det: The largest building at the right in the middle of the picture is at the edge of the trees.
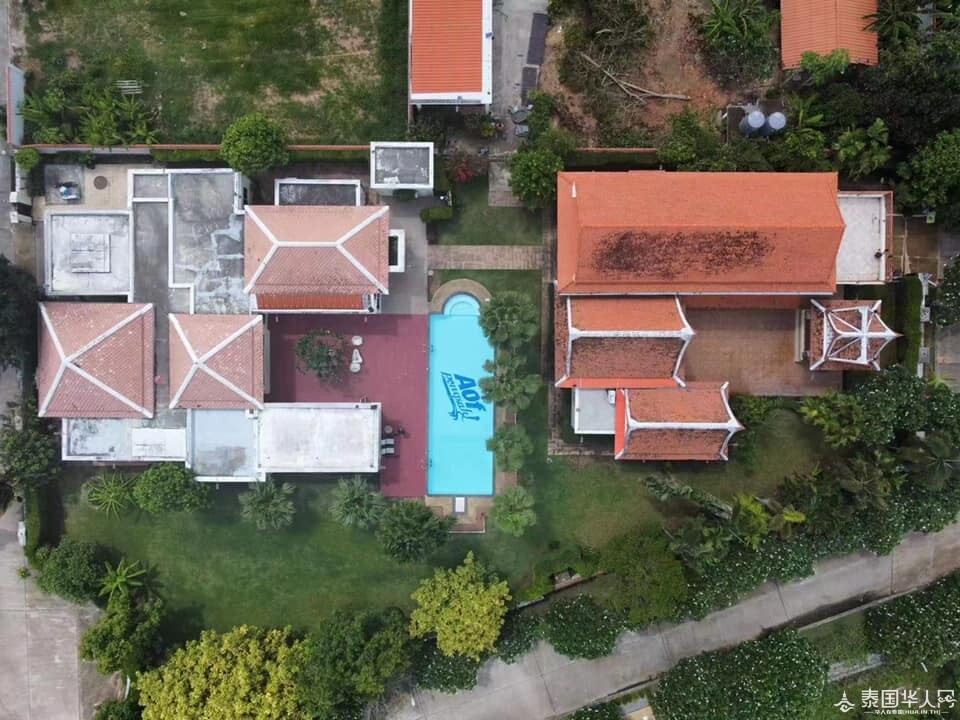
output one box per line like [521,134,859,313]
[556,172,895,465]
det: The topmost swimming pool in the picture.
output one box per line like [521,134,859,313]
[424,280,496,497]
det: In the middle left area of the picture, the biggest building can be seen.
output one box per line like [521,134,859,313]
[36,169,408,487]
